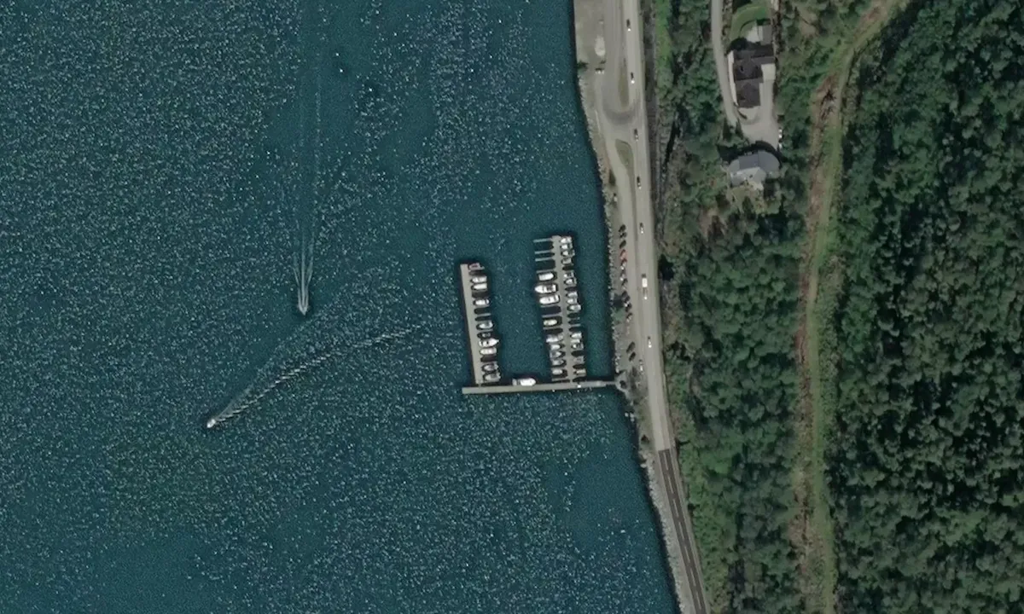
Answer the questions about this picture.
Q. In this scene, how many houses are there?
2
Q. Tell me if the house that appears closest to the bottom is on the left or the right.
right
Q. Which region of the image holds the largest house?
top right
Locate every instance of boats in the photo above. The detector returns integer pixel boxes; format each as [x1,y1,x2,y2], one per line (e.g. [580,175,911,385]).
[478,339,500,348]
[207,417,216,425]
[551,369,563,375]
[469,262,482,270]
[566,278,576,284]
[560,237,573,243]
[550,351,562,358]
[564,272,576,278]
[540,295,560,304]
[573,357,585,363]
[550,359,564,366]
[576,369,587,375]
[572,343,584,349]
[484,363,499,371]
[479,321,494,329]
[535,284,556,293]
[549,344,561,350]
[480,347,497,355]
[474,283,488,290]
[485,373,501,381]
[475,299,490,305]
[562,250,576,256]
[546,334,563,342]
[542,319,557,326]
[473,277,488,283]
[513,378,535,385]
[567,298,578,304]
[538,273,554,281]
[572,333,583,339]
[570,304,582,311]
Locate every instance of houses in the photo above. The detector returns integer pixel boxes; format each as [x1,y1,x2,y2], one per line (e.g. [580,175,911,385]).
[729,149,780,186]
[735,42,776,107]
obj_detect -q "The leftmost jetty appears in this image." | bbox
[461,264,500,386]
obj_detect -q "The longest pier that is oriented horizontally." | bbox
[462,380,606,394]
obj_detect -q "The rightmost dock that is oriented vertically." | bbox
[535,236,586,380]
